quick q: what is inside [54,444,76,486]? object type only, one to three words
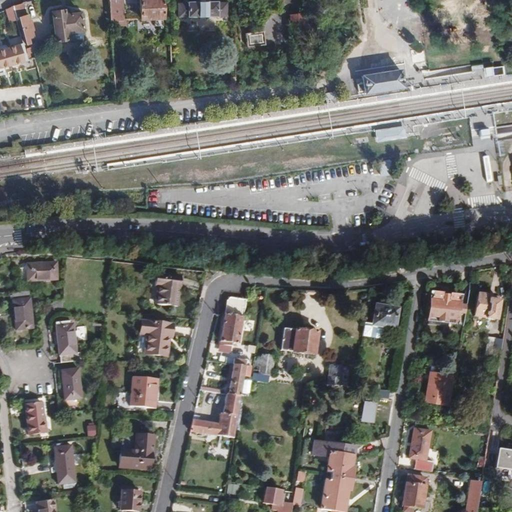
house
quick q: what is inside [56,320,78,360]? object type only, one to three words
house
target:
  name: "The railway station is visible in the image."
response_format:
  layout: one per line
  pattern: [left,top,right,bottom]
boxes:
[24,68,512,170]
